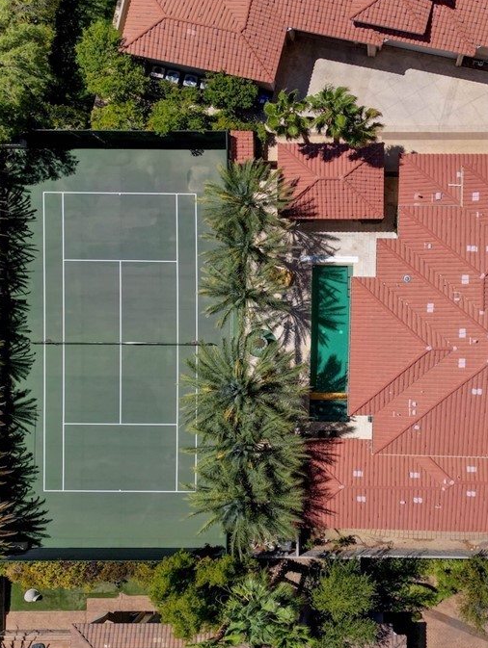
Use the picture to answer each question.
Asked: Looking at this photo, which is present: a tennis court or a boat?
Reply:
tennis court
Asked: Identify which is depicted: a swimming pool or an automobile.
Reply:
swimming pool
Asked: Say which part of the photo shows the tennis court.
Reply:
left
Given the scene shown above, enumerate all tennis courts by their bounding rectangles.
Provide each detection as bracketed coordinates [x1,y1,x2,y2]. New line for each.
[1,141,235,549]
